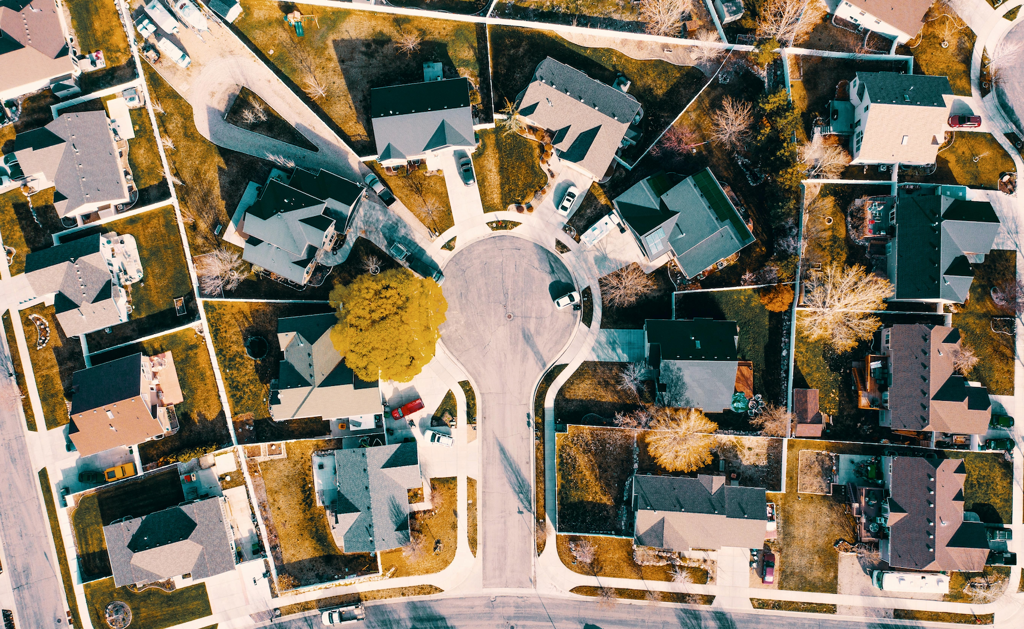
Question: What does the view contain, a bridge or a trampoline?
trampoline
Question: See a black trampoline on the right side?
No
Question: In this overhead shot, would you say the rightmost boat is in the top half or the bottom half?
top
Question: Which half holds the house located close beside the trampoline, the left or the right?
left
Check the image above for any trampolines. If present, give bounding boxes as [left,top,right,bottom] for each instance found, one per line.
[241,334,271,361]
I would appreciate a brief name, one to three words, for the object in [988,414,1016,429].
car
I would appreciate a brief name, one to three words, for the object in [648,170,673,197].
solar panel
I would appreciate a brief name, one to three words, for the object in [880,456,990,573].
house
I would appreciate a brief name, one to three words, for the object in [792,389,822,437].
shed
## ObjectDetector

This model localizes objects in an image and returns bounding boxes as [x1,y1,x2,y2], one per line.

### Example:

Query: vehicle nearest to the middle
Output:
[554,289,581,310]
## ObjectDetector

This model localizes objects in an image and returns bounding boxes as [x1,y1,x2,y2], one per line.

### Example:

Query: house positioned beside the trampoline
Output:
[268,311,384,421]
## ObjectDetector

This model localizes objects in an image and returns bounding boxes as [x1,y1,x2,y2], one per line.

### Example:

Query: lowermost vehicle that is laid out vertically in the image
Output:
[761,552,777,585]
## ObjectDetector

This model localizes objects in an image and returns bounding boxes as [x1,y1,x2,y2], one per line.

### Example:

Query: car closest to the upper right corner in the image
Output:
[949,115,982,129]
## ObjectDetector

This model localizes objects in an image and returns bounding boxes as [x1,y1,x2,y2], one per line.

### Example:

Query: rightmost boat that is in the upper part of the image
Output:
[171,0,215,37]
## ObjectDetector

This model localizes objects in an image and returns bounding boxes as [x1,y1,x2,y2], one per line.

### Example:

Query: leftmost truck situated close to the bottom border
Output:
[321,605,367,626]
